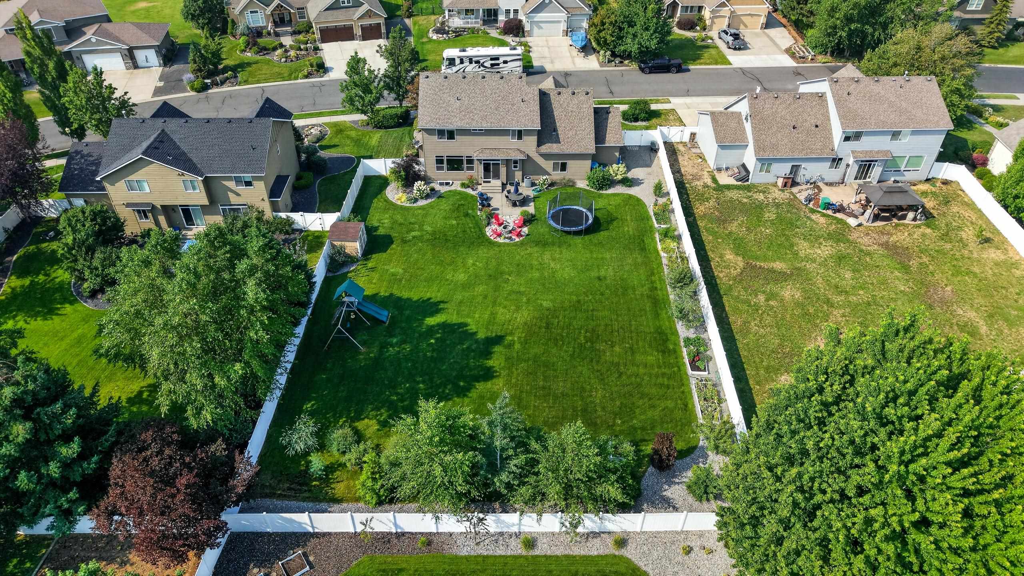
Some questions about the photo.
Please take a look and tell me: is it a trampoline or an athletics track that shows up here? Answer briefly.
trampoline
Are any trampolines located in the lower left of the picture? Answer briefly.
No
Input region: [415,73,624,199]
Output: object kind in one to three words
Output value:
house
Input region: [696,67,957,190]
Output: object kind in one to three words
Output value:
house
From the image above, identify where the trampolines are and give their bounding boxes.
[542,190,596,241]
